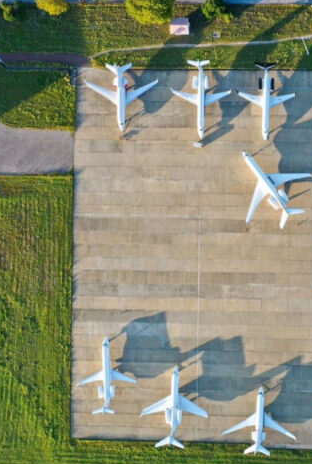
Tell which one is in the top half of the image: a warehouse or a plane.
plane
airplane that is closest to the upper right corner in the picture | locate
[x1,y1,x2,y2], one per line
[236,63,295,139]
